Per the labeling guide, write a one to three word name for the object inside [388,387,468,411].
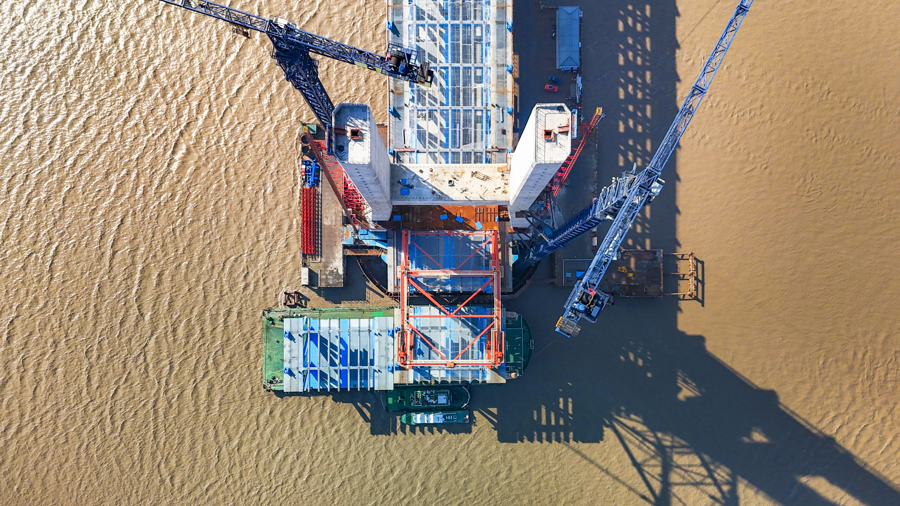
boat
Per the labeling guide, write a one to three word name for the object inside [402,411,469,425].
boat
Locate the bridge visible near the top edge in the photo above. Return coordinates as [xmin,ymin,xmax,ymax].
[388,0,512,165]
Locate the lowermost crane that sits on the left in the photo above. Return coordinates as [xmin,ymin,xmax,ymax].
[304,126,367,228]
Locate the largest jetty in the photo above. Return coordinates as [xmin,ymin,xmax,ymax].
[618,249,662,299]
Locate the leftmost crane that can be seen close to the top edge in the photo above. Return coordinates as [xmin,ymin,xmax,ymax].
[142,0,438,133]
